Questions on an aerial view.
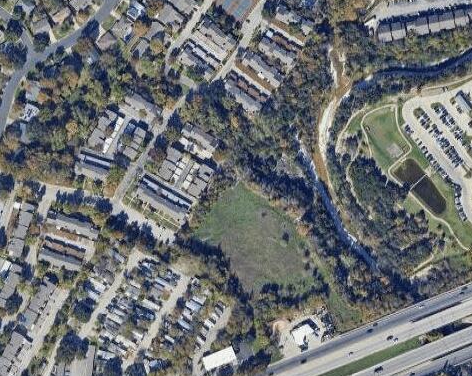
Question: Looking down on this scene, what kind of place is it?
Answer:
residential area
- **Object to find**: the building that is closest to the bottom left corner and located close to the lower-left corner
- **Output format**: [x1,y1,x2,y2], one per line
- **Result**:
[0,332,34,376]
